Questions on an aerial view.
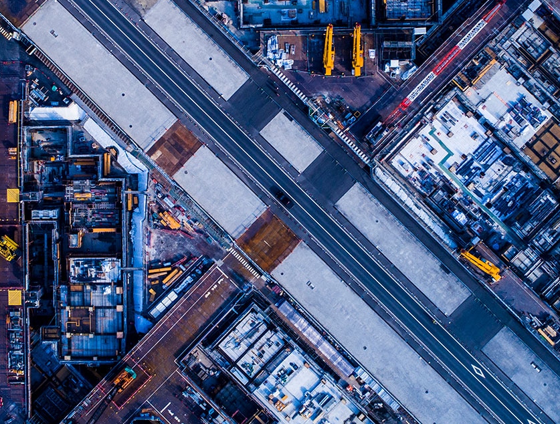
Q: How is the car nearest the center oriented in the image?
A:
on a diagonal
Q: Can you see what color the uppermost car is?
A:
black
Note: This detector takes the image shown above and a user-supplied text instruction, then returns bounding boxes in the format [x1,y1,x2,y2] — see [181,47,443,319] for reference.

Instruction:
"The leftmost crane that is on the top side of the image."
[319,24,339,75]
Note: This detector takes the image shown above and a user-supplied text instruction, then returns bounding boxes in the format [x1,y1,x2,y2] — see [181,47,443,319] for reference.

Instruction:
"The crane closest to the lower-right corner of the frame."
[461,255,501,283]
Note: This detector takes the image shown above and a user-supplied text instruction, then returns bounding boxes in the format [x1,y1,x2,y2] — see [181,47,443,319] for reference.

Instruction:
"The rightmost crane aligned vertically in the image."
[348,23,367,76]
